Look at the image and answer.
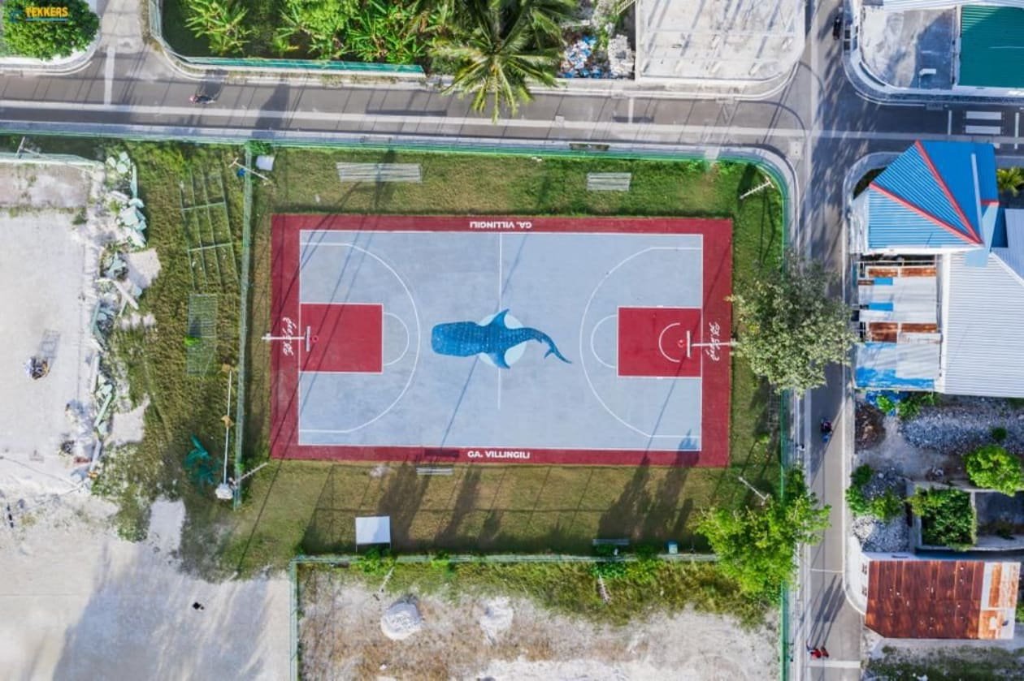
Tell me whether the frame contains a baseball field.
No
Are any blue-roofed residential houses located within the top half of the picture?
Yes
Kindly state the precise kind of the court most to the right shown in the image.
basketball court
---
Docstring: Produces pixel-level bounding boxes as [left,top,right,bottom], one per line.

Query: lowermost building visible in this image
[852,553,1022,640]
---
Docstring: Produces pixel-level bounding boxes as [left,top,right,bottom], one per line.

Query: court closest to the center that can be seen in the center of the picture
[270,215,732,467]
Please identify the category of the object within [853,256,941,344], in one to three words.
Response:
shed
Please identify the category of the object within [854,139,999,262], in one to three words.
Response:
house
